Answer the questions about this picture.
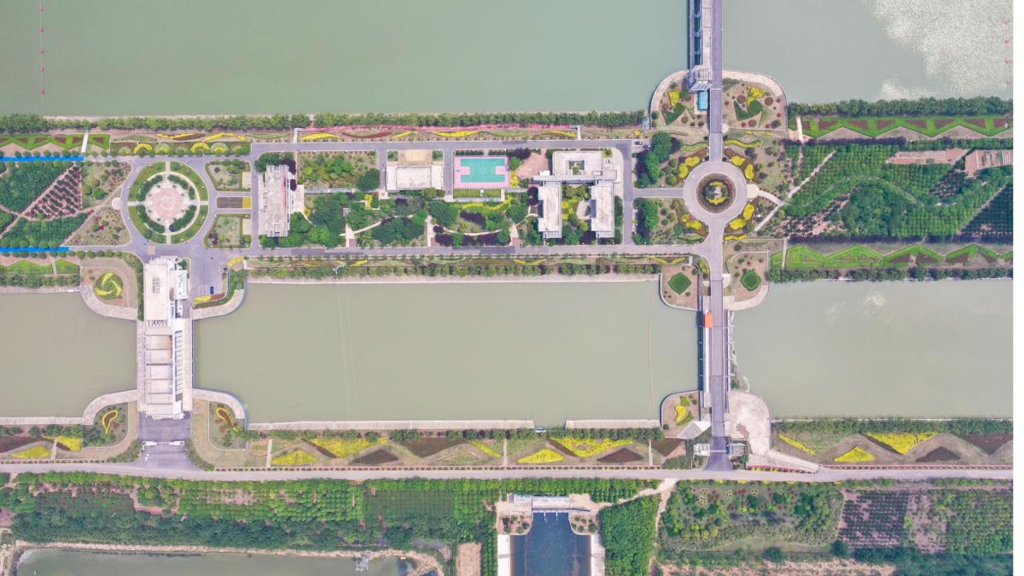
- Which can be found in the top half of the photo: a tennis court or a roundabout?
roundabout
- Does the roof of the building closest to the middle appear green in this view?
No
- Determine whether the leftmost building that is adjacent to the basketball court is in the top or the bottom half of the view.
top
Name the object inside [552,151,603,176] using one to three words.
building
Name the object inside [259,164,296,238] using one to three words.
building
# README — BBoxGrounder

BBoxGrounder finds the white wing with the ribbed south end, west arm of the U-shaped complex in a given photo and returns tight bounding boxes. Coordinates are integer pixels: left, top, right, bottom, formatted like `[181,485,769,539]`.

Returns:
[538,181,562,239]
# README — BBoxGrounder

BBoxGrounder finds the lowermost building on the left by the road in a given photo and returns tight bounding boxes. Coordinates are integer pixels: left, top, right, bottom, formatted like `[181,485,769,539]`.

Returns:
[143,256,196,323]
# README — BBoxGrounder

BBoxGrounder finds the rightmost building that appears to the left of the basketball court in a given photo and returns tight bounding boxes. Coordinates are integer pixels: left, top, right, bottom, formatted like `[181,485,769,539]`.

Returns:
[386,165,444,190]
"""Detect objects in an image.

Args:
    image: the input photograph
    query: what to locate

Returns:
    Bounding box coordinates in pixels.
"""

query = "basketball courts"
[454,156,510,189]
